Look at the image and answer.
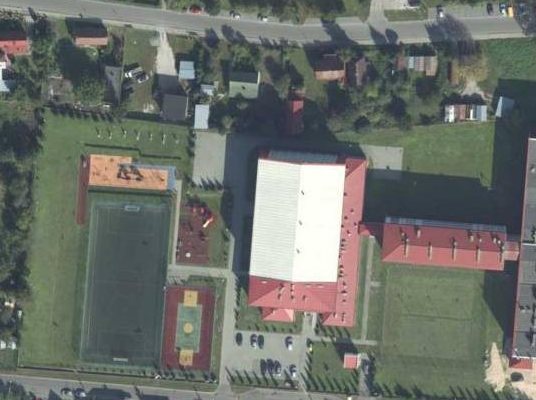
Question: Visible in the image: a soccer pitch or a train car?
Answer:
soccer pitch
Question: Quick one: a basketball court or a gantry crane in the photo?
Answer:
basketball court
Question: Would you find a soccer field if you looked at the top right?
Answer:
No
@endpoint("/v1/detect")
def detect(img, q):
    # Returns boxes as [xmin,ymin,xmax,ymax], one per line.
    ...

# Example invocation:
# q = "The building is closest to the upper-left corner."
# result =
[0,25,29,56]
